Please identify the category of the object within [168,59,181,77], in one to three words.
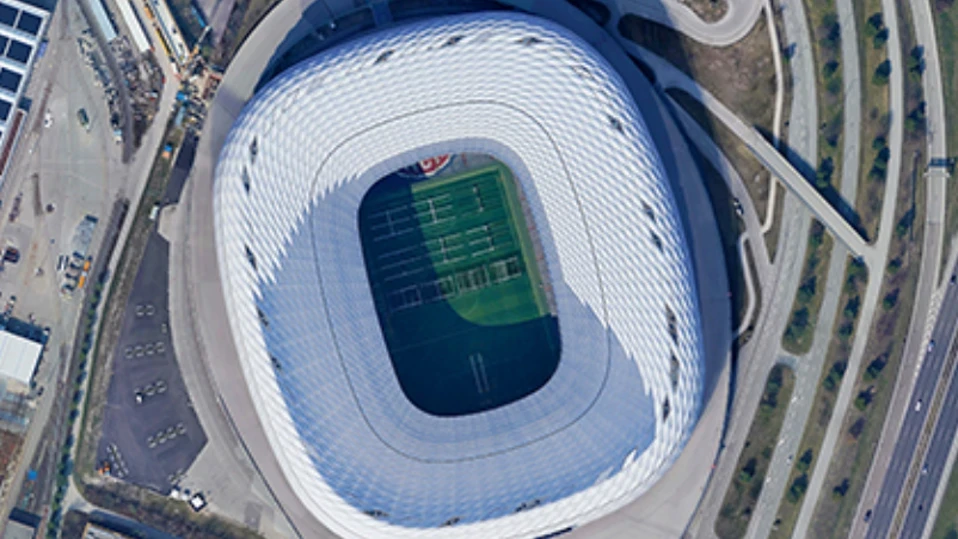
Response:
vehicle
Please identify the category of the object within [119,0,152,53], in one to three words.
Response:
shed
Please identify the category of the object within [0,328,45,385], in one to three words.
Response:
building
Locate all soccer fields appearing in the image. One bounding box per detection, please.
[359,164,558,416]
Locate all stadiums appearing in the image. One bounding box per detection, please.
[212,9,705,539]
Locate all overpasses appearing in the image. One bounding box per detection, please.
[675,66,875,258]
